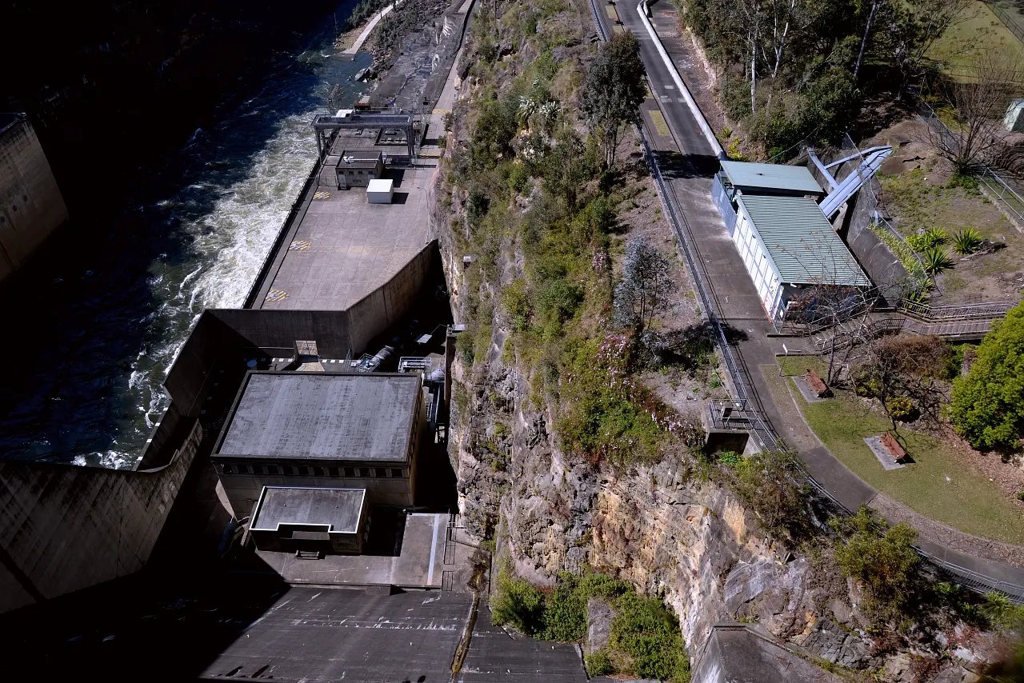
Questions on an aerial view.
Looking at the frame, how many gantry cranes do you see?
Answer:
1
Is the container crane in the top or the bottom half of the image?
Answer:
top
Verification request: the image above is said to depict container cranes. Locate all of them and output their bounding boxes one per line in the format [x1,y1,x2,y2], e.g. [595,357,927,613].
[307,97,427,167]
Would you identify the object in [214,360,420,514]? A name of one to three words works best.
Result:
building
